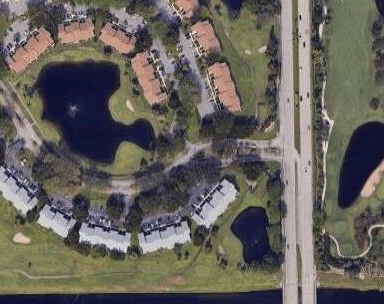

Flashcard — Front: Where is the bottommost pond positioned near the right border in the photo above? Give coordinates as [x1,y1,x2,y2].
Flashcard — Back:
[338,121,384,208]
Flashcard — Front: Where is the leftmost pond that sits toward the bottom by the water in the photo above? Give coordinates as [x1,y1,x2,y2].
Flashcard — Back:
[232,206,271,262]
